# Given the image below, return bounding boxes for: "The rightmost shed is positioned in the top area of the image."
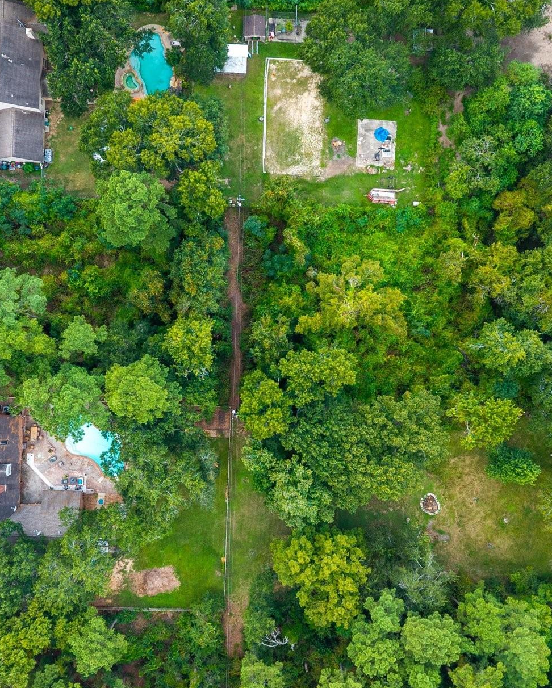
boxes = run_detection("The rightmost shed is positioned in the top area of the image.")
[243,15,266,61]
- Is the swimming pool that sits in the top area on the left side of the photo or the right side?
left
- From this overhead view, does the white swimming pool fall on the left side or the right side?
left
